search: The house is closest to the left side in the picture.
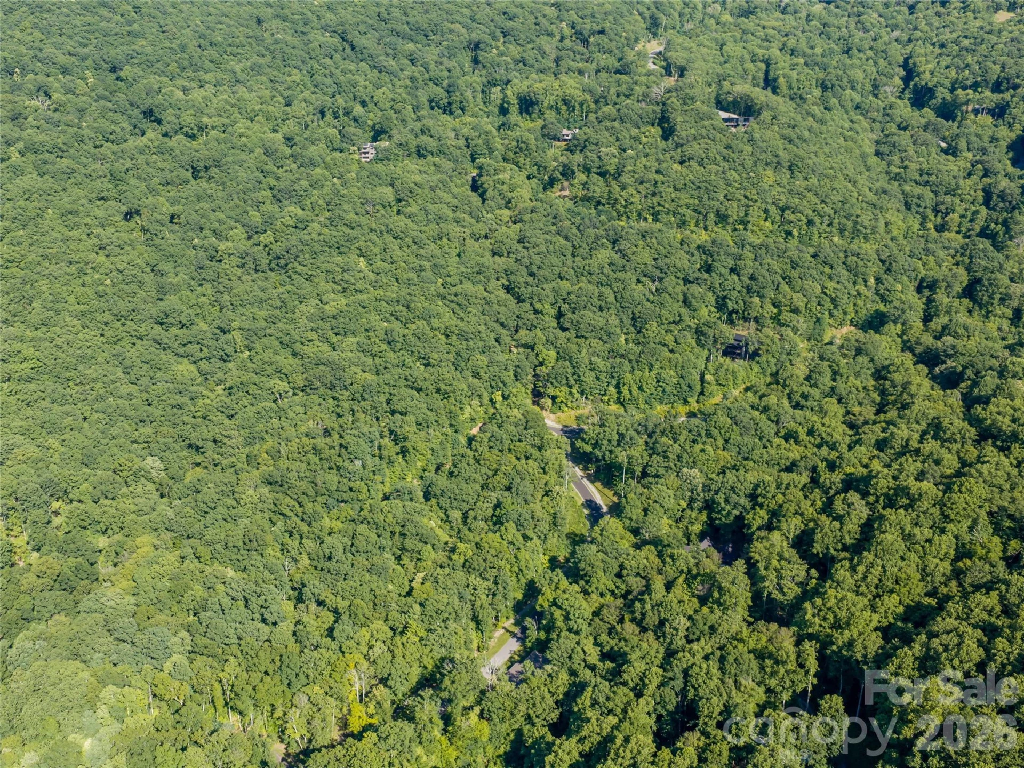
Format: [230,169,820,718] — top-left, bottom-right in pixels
[357,137,376,160]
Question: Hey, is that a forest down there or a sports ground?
forest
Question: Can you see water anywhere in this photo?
No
